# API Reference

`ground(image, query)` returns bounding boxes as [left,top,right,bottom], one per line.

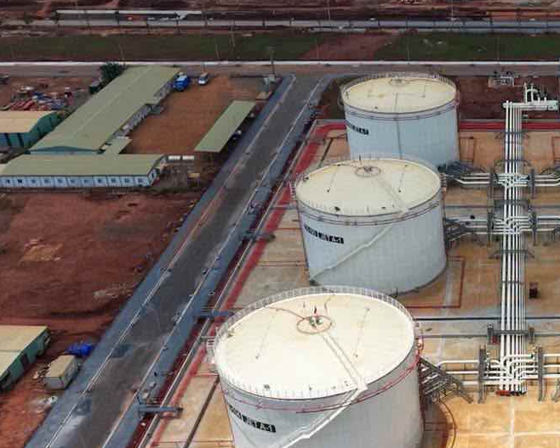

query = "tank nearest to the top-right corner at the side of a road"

[337,74,462,177]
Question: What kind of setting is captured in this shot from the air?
industrial area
